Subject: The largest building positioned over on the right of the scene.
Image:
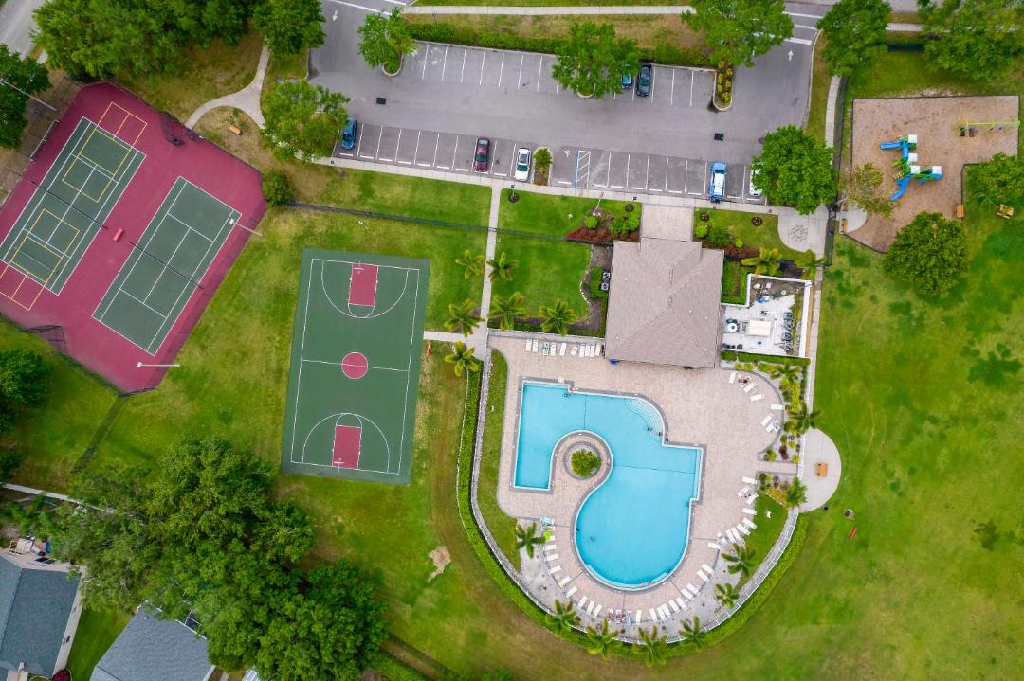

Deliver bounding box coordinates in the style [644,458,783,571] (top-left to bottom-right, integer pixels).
[605,237,724,367]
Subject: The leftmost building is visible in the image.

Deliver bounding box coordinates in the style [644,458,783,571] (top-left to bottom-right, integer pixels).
[0,545,91,681]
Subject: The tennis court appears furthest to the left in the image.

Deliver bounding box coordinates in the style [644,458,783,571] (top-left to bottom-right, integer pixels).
[0,101,147,310]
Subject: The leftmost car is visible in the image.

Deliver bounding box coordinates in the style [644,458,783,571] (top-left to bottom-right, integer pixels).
[340,115,357,148]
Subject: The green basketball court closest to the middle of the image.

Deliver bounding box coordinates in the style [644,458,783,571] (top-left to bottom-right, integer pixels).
[281,249,430,485]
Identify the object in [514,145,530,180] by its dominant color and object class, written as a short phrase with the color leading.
white car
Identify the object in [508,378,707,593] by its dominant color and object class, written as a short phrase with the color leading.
blue swimming pool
